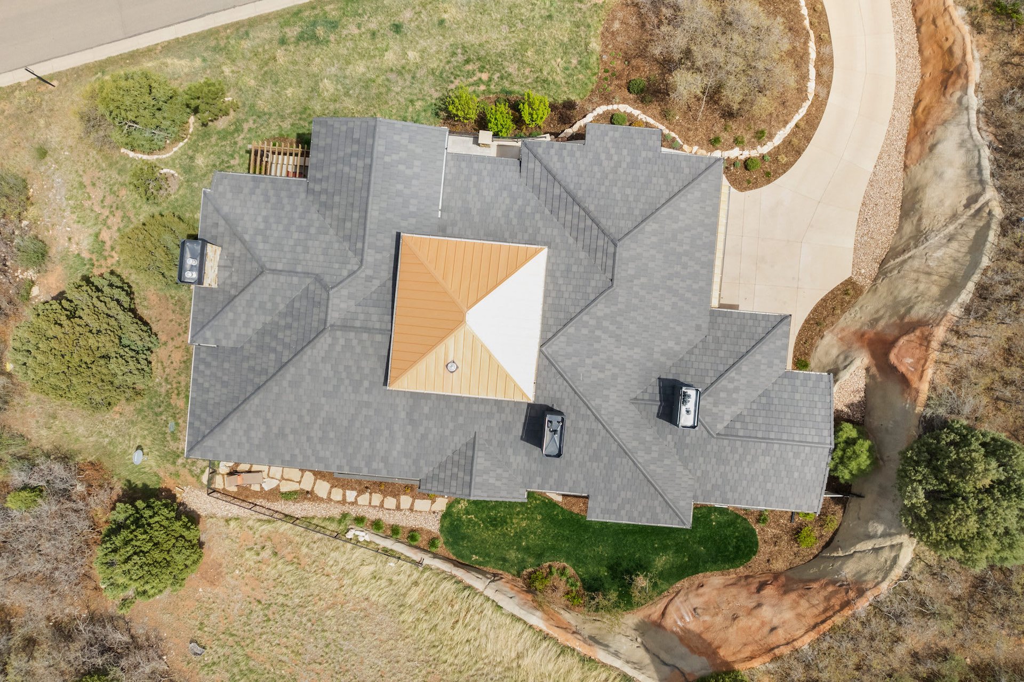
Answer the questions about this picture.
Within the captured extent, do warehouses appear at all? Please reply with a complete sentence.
No, there isn't any warehouse down there.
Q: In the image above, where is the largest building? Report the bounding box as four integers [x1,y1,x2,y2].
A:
[178,117,835,530]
